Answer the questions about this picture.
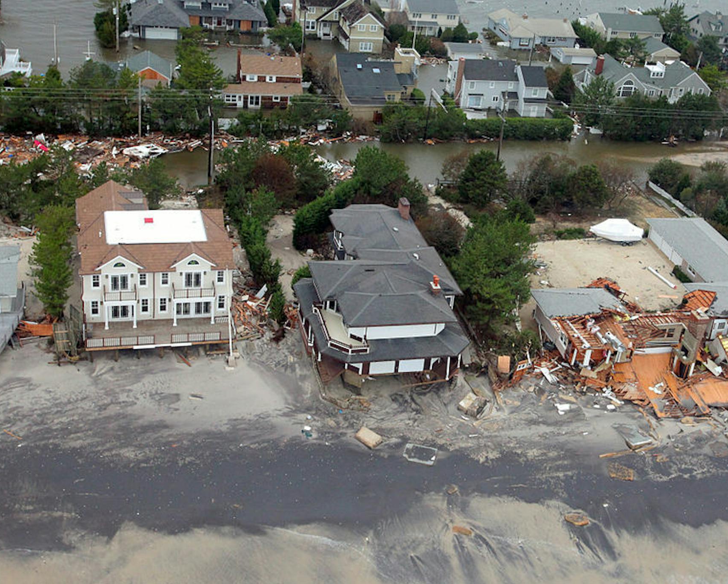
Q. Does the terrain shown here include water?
Yes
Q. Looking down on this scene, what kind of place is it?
residential area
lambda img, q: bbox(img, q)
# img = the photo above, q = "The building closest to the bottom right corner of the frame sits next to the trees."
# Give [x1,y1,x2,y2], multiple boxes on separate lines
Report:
[532,210,728,419]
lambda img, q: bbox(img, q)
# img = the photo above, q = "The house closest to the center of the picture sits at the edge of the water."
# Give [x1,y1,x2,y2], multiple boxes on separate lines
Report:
[294,196,470,387]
